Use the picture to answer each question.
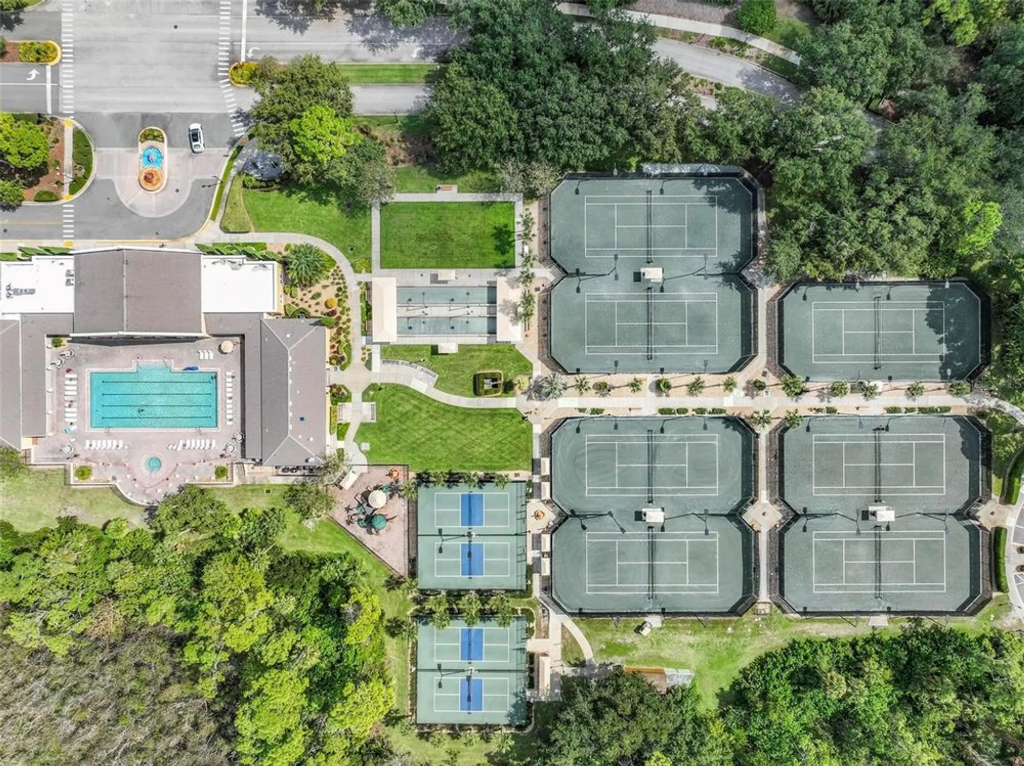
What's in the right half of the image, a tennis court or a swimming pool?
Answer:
tennis court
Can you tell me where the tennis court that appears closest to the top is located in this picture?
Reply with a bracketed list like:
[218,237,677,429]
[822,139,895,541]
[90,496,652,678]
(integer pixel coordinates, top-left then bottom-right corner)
[551,178,751,274]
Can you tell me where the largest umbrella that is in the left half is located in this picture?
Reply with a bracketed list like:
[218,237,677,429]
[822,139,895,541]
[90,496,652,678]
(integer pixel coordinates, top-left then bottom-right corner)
[221,340,234,354]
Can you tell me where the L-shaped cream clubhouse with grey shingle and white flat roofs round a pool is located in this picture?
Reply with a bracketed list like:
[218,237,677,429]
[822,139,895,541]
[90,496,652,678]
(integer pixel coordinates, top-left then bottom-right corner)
[0,244,332,466]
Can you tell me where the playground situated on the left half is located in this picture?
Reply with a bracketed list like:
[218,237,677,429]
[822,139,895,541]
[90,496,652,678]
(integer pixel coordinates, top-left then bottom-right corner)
[326,466,408,573]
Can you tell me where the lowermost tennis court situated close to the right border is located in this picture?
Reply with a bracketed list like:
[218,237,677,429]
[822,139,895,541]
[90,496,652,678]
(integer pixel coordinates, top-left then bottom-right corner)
[785,514,980,610]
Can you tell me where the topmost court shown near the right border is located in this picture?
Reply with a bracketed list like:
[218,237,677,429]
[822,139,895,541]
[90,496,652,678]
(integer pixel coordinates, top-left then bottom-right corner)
[784,283,978,379]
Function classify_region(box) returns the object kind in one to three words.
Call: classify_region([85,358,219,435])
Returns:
swimming pool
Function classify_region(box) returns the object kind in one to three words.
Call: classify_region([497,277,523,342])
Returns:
building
